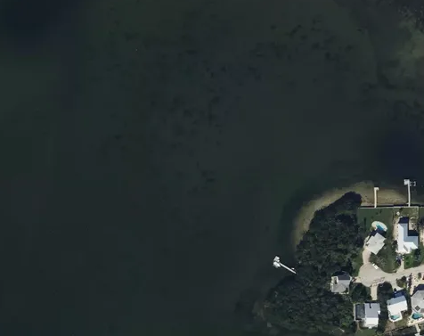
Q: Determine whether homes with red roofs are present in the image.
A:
No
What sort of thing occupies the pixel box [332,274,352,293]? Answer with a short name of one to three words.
house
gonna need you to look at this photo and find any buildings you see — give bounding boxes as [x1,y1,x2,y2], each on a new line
[368,232,387,254]
[364,303,382,327]
[332,274,352,293]
[387,295,409,315]
[397,222,420,251]
[413,288,424,314]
